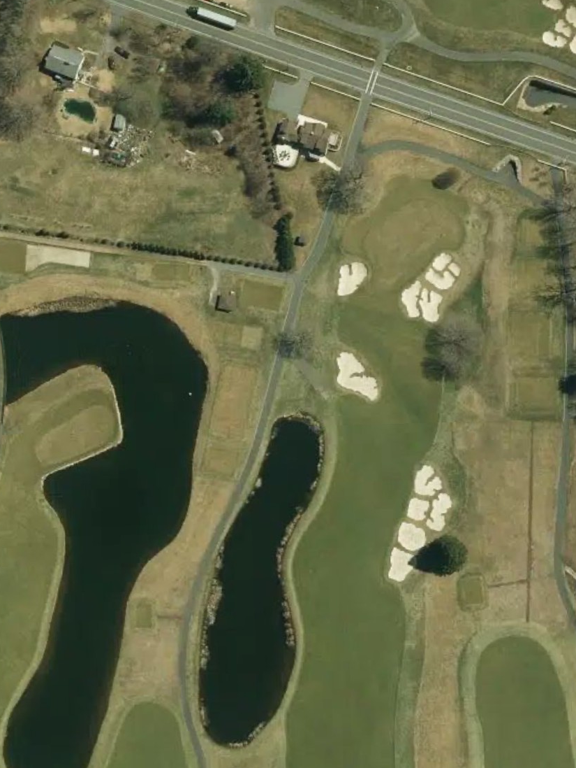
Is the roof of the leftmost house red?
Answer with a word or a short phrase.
No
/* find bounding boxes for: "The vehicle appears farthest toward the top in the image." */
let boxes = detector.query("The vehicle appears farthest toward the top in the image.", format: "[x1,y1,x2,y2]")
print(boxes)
[185,2,236,25]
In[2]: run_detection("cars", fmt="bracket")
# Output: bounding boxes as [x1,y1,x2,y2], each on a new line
[108,57,115,69]
[115,47,128,57]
